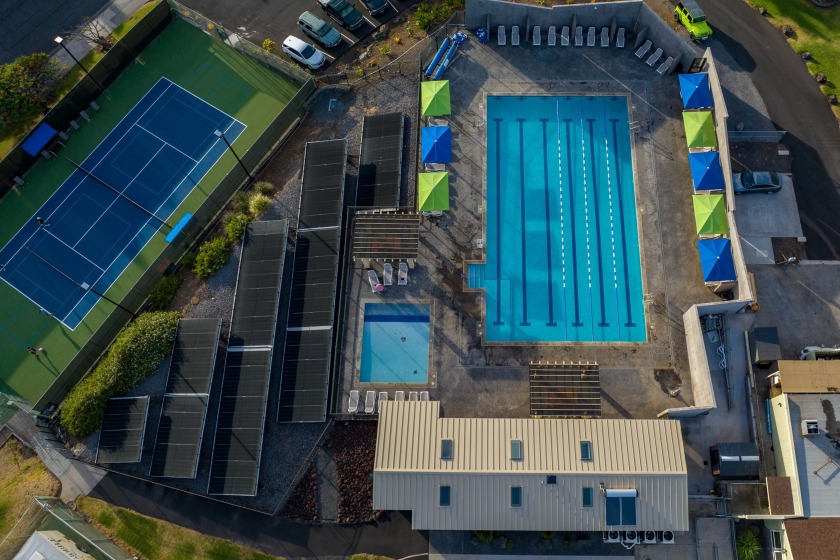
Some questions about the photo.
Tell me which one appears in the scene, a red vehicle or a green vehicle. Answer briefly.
green vehicle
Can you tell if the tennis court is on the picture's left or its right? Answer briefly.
left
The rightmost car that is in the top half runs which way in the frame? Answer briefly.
from left to right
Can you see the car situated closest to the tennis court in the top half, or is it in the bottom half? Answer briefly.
top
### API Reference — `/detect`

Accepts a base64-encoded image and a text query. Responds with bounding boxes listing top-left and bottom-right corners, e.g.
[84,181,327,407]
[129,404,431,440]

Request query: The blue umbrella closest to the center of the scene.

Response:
[419,127,452,164]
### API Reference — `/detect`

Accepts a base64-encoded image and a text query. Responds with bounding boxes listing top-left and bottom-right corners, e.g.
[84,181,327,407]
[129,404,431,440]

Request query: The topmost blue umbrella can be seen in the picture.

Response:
[679,74,713,109]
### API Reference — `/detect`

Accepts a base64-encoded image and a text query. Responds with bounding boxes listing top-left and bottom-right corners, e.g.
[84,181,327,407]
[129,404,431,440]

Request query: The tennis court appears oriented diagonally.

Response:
[0,17,301,412]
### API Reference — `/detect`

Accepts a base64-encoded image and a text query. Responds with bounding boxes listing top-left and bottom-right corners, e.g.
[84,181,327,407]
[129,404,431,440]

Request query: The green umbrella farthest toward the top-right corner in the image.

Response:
[682,111,718,148]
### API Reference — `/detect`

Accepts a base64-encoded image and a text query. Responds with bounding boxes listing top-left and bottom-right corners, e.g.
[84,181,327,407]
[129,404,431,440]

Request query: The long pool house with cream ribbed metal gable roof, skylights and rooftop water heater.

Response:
[375,398,692,535]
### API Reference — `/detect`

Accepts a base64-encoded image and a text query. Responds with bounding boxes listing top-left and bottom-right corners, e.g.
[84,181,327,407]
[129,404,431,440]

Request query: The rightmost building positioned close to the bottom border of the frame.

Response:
[744,361,840,560]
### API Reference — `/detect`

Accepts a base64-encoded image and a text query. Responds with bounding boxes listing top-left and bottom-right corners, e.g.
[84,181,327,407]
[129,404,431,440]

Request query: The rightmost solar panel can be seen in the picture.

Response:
[354,112,405,208]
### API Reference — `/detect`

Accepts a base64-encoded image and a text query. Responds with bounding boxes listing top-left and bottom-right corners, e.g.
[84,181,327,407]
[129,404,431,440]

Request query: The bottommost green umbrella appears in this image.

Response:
[692,193,730,235]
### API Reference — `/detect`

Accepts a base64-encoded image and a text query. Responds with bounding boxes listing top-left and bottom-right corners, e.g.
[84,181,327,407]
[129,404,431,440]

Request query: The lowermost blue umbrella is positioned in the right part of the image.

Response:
[699,239,738,281]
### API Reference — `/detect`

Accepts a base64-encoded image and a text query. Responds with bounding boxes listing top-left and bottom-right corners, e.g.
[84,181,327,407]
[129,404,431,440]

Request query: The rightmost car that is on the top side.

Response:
[733,167,792,195]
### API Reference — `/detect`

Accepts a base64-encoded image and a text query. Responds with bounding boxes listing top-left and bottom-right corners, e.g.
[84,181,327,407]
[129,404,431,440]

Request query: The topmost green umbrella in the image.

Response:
[420,81,452,116]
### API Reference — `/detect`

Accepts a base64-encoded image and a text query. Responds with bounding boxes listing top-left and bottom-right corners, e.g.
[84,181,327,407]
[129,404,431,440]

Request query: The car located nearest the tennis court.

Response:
[281,32,326,70]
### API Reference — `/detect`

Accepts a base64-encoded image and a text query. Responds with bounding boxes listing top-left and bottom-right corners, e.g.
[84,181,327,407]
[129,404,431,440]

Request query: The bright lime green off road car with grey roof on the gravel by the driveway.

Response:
[672,0,716,42]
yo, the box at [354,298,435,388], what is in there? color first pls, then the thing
blue swimming pool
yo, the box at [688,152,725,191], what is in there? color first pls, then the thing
blue umbrella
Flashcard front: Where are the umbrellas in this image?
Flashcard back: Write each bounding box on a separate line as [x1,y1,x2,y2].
[679,74,713,109]
[699,239,738,281]
[420,81,452,116]
[419,127,452,164]
[692,193,730,235]
[682,111,718,148]
[688,152,725,191]
[417,172,449,211]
